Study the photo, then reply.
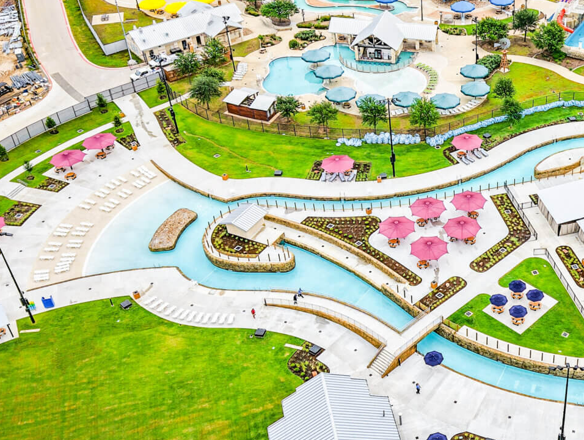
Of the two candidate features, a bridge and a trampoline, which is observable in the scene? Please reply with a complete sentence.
This aerial view contains a bridge.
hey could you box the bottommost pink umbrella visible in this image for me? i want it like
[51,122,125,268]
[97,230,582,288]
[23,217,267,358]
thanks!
[409,237,449,267]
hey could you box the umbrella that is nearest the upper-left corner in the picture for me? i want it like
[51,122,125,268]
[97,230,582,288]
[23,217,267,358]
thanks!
[138,0,168,16]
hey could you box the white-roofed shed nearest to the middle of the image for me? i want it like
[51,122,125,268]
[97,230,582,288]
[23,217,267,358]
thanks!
[219,203,266,243]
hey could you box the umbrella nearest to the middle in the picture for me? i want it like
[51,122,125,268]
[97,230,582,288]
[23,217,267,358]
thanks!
[321,156,355,180]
